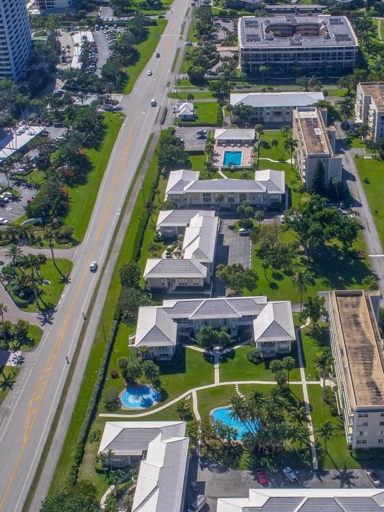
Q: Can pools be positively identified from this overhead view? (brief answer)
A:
Yes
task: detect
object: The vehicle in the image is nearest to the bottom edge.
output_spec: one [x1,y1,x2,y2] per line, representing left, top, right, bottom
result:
[186,492,206,512]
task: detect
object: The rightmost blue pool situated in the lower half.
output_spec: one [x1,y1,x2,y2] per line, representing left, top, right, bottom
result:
[209,404,262,442]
